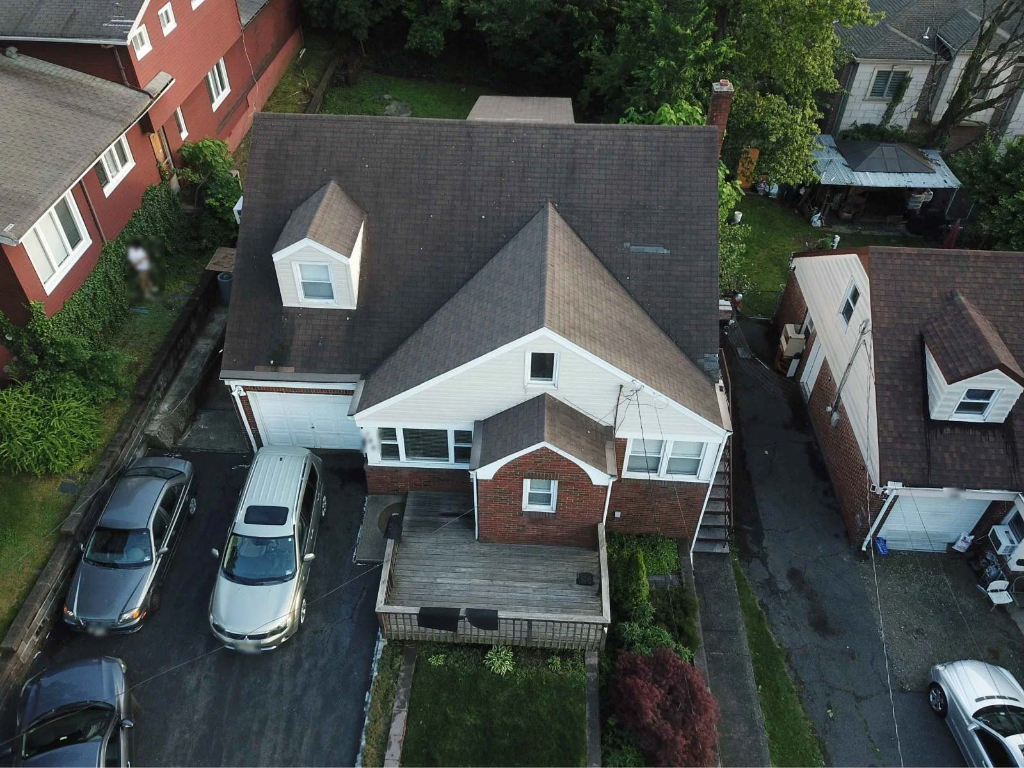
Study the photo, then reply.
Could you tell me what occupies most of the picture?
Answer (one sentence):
The scene is dominated by buildings.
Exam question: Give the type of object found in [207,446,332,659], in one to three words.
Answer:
car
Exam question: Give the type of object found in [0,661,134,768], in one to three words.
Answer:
car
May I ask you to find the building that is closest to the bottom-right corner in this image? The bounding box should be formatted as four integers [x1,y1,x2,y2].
[780,249,1024,560]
